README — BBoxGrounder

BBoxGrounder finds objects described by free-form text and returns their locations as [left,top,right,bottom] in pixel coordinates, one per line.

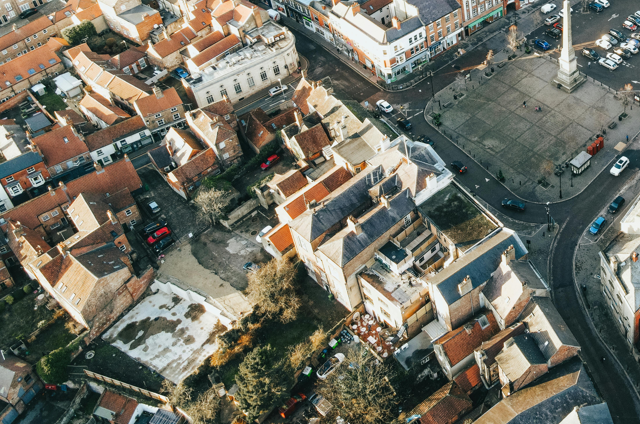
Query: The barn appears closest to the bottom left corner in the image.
[0,344,48,419]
